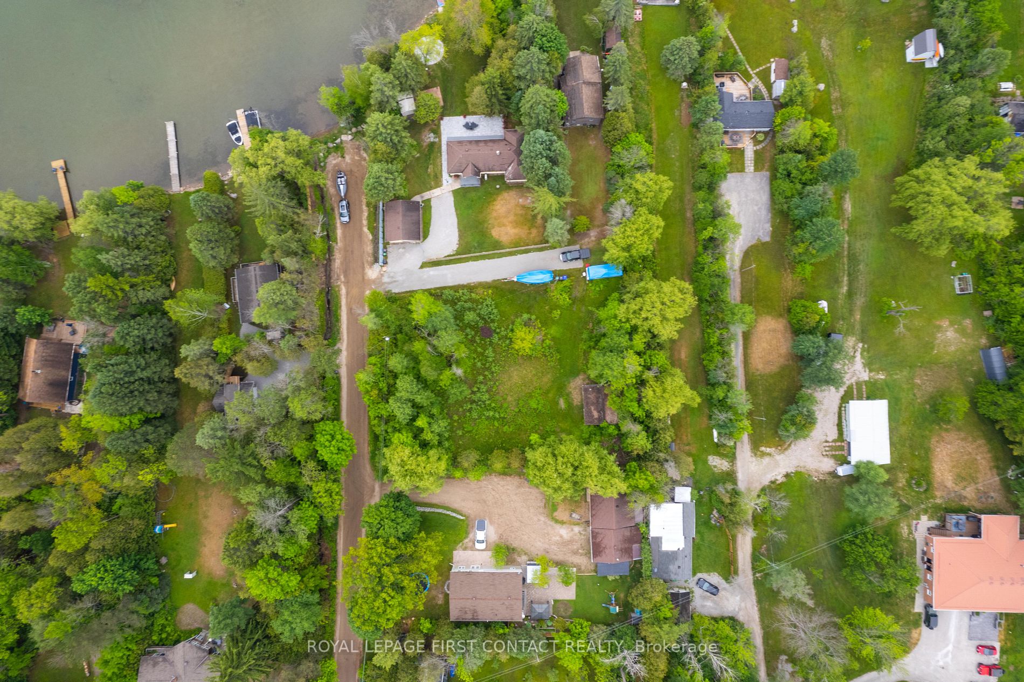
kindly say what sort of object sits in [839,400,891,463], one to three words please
barn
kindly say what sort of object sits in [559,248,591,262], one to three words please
vehicle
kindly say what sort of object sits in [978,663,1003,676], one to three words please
vehicle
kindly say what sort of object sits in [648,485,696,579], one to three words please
house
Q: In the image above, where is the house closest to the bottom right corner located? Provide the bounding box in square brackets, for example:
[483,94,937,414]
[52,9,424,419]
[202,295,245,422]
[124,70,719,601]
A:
[923,513,1024,613]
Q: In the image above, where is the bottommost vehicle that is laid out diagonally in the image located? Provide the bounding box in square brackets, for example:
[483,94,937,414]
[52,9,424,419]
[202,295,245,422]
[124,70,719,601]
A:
[695,577,720,596]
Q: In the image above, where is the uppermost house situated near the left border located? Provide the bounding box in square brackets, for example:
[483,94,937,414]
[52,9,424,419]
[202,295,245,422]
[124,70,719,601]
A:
[17,338,81,403]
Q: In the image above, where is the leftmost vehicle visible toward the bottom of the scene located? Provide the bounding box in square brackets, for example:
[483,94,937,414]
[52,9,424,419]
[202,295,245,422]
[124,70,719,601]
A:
[474,518,486,550]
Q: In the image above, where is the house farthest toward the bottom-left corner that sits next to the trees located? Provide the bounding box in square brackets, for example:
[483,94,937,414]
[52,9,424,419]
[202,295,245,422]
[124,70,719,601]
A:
[138,642,222,682]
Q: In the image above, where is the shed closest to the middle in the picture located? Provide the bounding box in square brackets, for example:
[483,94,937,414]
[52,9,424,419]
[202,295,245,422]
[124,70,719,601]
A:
[583,384,618,425]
